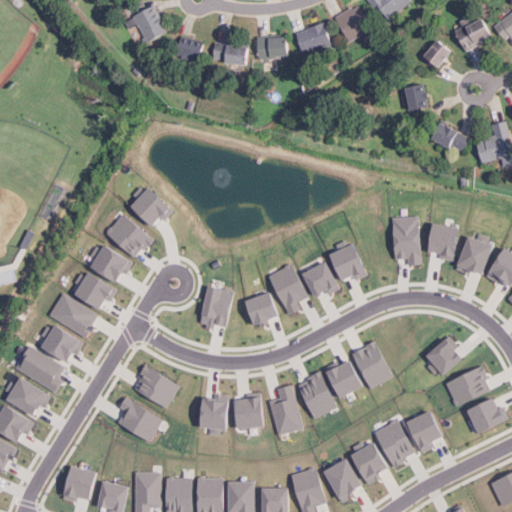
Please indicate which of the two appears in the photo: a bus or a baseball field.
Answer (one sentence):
I can see a baseball field in this picture.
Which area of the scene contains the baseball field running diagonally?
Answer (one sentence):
The baseball field running diagonally is in the top left part of the image.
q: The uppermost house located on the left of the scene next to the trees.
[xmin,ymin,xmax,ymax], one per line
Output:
[126,8,164,42]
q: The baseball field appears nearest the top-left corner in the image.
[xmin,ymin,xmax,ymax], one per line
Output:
[0,24,38,89]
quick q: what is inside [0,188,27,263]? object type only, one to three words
baseball field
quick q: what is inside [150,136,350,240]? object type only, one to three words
pond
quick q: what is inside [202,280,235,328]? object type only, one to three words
house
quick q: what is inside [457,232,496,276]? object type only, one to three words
house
